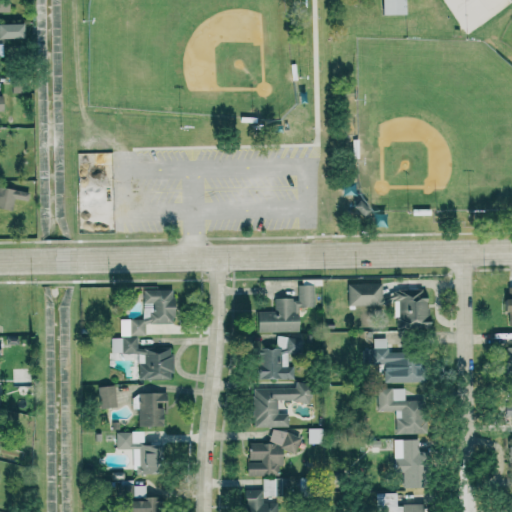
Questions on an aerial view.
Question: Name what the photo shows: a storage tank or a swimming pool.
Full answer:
The image shows a swimming pool.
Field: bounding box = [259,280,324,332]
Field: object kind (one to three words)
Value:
house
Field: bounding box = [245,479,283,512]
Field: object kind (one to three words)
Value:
house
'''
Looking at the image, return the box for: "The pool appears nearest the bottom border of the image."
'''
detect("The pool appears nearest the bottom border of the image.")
[100,448,134,470]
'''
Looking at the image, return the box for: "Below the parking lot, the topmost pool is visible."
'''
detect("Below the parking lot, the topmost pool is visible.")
[126,296,144,318]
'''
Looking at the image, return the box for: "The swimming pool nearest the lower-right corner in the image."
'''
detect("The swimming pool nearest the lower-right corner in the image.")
[282,402,315,420]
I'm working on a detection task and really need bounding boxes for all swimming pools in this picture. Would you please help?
[110,354,140,380]
[126,296,144,318]
[110,406,135,431]
[100,448,134,470]
[282,402,315,420]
